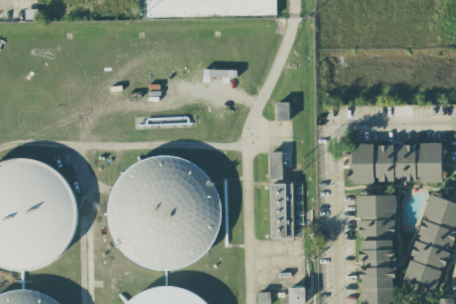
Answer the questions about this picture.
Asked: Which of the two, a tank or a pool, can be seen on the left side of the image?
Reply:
tank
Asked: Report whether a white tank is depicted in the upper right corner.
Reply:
No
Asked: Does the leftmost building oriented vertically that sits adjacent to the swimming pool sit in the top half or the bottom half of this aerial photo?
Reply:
bottom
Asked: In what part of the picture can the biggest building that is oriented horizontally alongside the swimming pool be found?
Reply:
right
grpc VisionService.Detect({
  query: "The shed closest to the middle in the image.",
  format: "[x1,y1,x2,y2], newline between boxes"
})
[270,152,284,180]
